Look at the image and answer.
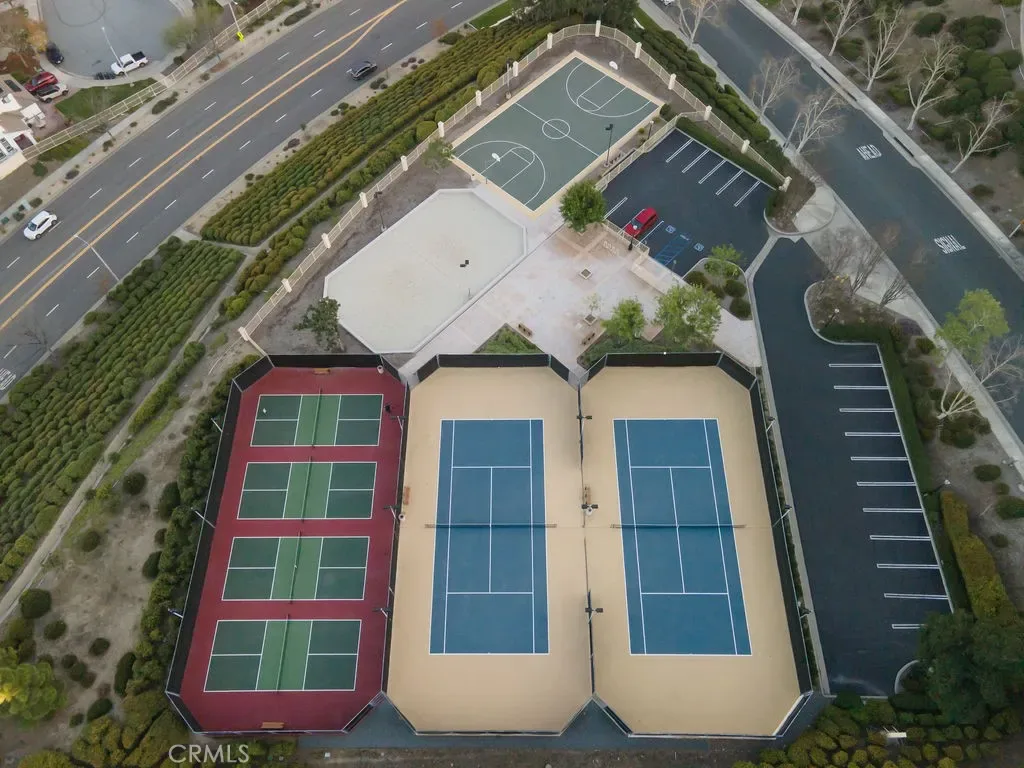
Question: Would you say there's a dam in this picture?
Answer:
No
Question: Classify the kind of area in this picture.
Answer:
sports ground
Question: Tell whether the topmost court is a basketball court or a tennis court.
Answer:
basketball court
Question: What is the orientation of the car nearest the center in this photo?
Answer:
at an angle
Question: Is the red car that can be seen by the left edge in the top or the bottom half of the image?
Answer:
top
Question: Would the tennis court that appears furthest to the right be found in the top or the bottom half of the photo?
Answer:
bottom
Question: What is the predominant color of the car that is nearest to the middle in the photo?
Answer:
red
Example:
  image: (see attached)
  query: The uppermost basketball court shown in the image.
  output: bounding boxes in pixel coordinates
[444,52,659,217]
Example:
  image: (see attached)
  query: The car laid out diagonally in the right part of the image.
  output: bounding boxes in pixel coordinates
[626,206,660,235]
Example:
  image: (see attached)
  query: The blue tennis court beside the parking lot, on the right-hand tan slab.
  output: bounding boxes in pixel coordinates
[582,368,803,737]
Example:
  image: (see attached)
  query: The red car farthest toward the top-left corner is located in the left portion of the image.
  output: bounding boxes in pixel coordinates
[23,69,56,91]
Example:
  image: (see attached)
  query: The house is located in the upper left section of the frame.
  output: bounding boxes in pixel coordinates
[0,86,50,160]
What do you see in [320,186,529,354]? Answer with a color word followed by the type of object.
white sports court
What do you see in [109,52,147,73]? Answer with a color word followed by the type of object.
white truck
